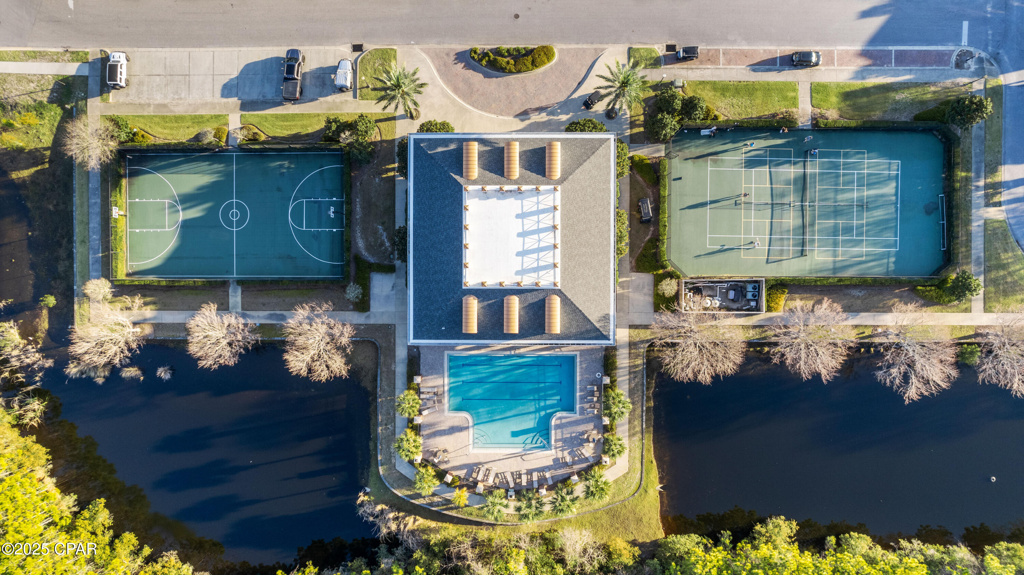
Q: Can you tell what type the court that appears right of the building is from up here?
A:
tennis court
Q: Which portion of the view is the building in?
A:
center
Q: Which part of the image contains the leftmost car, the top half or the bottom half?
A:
top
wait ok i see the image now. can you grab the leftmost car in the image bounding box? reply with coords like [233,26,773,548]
[108,52,131,89]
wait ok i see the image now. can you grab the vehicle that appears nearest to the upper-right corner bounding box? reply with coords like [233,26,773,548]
[789,51,821,69]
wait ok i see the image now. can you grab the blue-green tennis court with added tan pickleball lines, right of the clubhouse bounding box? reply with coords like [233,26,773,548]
[665,128,944,276]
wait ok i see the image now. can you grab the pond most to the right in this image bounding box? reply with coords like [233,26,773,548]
[653,352,1024,547]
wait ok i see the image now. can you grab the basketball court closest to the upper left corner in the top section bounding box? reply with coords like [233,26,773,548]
[125,148,346,280]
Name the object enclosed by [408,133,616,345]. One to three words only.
building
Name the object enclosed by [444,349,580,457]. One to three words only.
swimming pool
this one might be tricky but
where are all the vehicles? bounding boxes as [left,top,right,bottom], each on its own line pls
[579,91,601,111]
[789,51,821,69]
[283,51,305,103]
[637,197,652,220]
[677,45,700,61]
[108,52,131,89]
[336,61,356,96]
